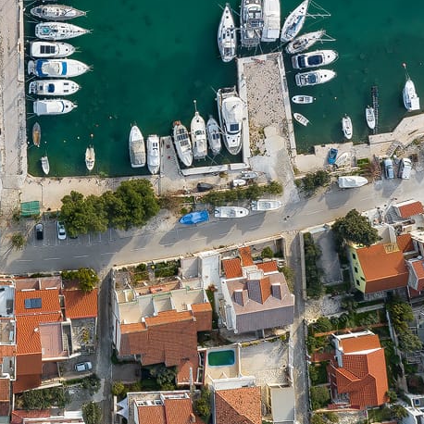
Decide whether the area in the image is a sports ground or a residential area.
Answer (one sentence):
It's a residential area.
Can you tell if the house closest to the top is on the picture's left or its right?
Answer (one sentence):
The house closest to the top appears in the right half of the scene.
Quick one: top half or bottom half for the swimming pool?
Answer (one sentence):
You can find the swimming pool in the bottom half.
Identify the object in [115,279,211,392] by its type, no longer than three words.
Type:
house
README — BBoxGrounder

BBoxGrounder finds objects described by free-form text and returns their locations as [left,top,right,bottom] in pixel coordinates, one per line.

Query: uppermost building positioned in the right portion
[390,198,424,227]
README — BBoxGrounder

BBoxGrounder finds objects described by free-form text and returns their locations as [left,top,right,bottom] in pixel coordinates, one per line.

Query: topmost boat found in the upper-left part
[22,3,87,20]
